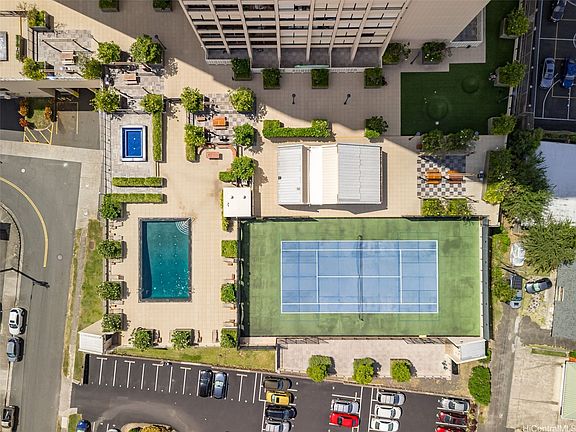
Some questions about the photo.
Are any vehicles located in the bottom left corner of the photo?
Yes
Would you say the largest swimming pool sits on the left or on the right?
left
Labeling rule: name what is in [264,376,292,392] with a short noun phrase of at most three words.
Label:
car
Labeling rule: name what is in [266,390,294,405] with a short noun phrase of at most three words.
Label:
car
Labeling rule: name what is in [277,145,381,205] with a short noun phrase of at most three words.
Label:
building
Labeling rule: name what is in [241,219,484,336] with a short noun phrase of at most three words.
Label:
tennis court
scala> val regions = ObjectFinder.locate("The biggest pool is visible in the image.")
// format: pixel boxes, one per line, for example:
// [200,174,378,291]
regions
[139,218,193,301]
